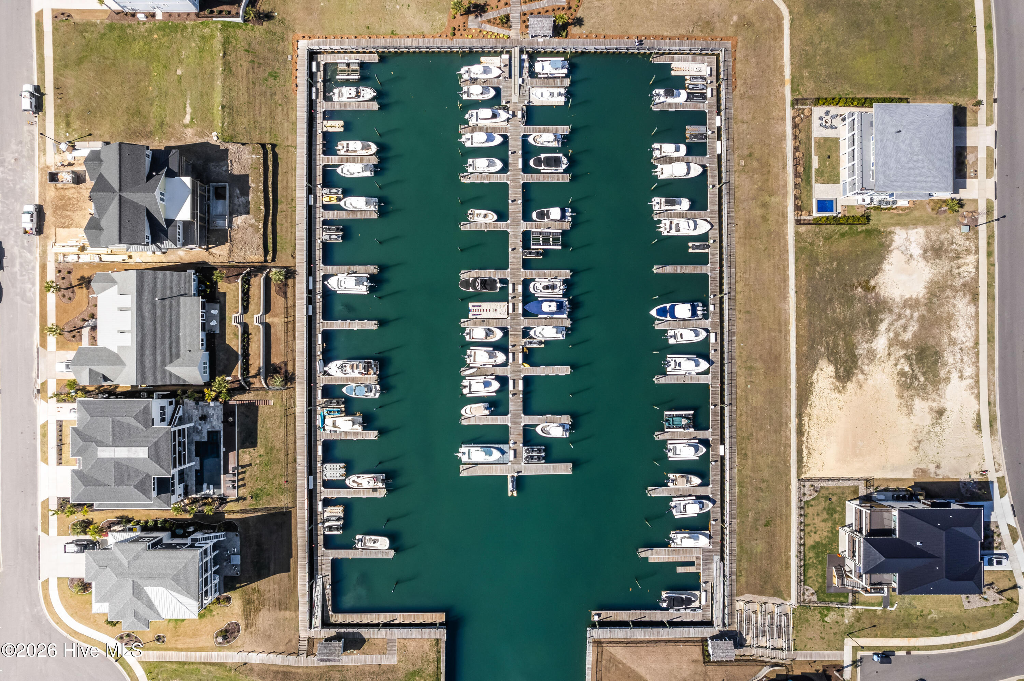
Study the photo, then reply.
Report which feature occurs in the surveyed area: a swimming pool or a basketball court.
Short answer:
swimming pool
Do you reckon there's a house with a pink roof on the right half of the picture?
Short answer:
No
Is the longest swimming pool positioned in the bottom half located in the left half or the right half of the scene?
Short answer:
left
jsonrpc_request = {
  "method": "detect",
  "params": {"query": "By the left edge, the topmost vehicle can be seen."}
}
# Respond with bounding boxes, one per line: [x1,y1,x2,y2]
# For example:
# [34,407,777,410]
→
[14,82,36,111]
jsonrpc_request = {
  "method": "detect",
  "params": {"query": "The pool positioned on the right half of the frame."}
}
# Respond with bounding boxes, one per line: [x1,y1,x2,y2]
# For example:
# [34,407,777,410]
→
[813,197,838,216]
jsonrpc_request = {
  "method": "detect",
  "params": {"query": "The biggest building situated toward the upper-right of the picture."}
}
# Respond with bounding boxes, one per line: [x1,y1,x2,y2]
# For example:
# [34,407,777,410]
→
[836,103,954,204]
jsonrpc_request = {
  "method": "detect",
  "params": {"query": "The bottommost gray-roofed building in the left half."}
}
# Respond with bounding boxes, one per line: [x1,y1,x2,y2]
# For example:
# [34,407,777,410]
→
[317,637,345,662]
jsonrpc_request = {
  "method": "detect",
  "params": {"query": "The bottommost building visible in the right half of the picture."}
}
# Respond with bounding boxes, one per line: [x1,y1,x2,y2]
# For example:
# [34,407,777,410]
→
[708,635,736,661]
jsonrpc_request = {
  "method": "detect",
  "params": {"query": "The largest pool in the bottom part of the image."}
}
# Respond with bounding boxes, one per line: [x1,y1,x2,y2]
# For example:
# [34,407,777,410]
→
[193,430,223,497]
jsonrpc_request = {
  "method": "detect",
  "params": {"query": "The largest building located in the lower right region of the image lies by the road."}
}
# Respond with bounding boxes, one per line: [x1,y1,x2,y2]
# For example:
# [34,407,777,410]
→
[826,500,983,595]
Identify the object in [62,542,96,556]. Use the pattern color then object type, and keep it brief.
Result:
white vehicle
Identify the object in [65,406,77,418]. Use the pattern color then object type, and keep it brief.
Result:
white vehicle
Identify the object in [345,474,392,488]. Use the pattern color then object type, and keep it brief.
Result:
white boat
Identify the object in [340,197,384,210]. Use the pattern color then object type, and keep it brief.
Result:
white boat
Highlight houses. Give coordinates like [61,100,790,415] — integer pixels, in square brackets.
[115,0,210,20]
[69,270,210,385]
[84,528,231,631]
[70,397,197,510]
[836,103,954,204]
[826,500,983,595]
[84,142,223,255]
